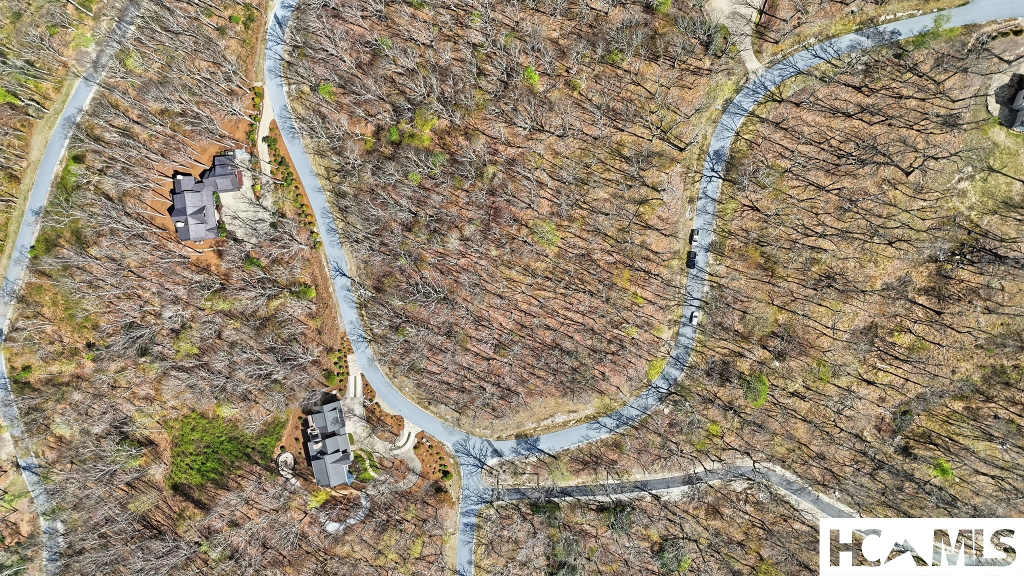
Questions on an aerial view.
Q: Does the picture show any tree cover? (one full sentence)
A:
Yes, there's tree cover in this view.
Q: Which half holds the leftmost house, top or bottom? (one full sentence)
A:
It is in the top half that the leftmost house appears.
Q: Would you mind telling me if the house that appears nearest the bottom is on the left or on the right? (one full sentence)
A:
The house that appears nearest the bottom sits on the left side.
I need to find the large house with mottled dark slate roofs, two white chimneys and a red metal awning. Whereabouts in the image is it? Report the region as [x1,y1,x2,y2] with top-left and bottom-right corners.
[171,156,245,241]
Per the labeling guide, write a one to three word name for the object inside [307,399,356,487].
house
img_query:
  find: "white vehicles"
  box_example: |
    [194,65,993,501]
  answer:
[692,229,700,245]
[693,312,700,325]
